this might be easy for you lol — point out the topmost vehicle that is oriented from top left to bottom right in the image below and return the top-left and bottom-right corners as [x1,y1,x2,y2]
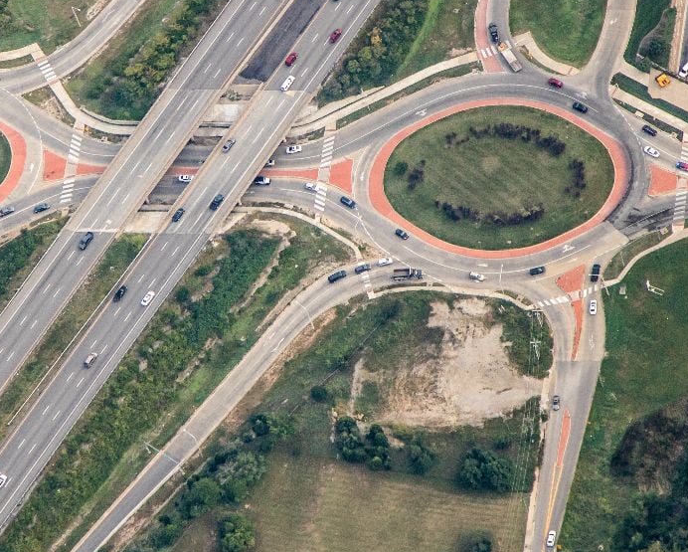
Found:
[500,43,520,68]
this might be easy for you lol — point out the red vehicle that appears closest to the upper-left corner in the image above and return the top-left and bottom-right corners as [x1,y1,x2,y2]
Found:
[285,51,299,67]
